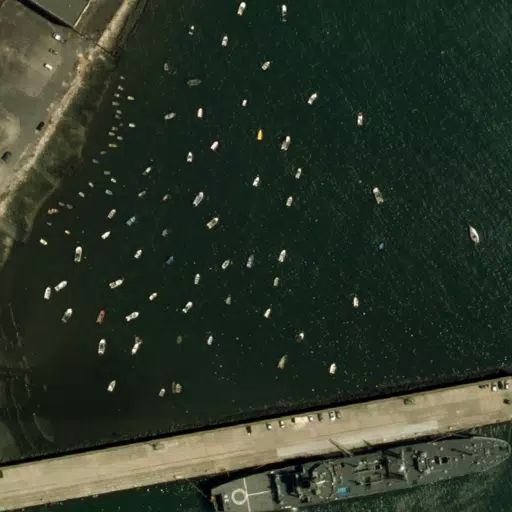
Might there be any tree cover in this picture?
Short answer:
No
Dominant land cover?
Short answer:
water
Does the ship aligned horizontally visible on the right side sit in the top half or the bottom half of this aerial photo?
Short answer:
bottom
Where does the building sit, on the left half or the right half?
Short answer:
left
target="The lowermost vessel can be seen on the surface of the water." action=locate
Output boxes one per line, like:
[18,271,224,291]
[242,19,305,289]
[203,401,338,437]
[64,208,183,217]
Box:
[209,438,510,512]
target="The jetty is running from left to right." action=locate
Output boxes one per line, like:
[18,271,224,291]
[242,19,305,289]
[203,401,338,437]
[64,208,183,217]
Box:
[0,376,512,510]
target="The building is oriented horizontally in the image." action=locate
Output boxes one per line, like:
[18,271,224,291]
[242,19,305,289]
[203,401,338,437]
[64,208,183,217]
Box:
[31,0,94,28]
